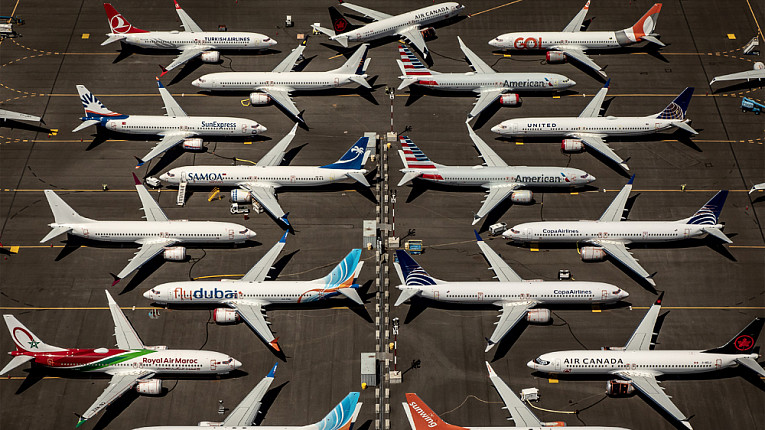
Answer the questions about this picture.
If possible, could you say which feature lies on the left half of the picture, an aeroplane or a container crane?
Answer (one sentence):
The one visible on the left half of the picture is an aeroplane.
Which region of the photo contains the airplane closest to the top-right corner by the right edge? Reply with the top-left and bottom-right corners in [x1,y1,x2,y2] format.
[711,58,765,83]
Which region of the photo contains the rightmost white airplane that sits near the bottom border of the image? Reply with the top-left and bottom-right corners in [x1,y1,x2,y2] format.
[527,288,765,430]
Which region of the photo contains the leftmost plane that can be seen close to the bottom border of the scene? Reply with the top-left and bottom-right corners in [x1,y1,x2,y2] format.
[0,287,241,428]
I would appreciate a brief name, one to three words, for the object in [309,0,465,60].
airplane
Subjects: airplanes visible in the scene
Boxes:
[72,74,267,169]
[100,0,277,77]
[159,120,370,225]
[191,34,371,122]
[40,170,256,285]
[403,357,631,430]
[0,112,42,126]
[492,75,699,170]
[128,355,363,430]
[398,121,595,225]
[752,180,765,193]
[0,287,241,428]
[489,0,666,77]
[309,0,465,60]
[143,225,363,352]
[527,288,765,430]
[397,35,577,122]
[711,58,765,83]
[503,171,733,286]
[393,226,628,353]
